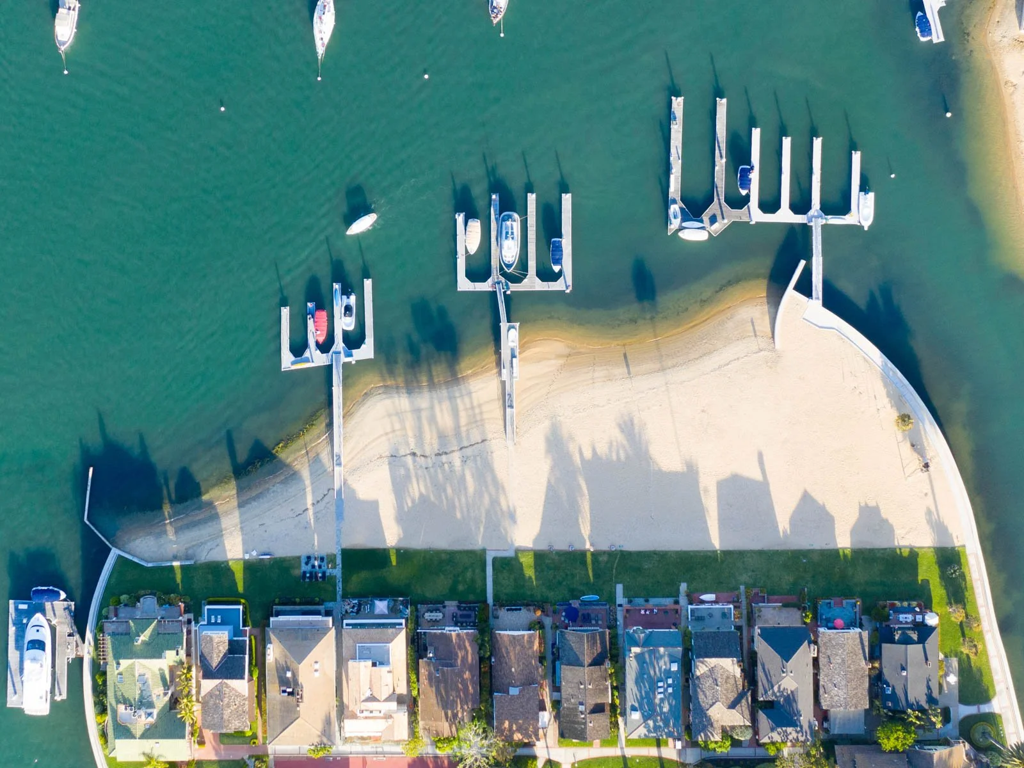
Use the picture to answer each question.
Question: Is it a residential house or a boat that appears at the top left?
boat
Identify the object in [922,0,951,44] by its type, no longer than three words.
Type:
pier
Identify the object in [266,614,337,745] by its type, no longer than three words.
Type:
house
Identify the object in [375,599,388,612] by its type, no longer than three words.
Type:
umbrella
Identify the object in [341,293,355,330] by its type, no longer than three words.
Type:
boat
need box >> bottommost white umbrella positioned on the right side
[945,671,957,684]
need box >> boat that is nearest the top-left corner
[56,0,84,52]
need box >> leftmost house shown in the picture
[107,616,195,762]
